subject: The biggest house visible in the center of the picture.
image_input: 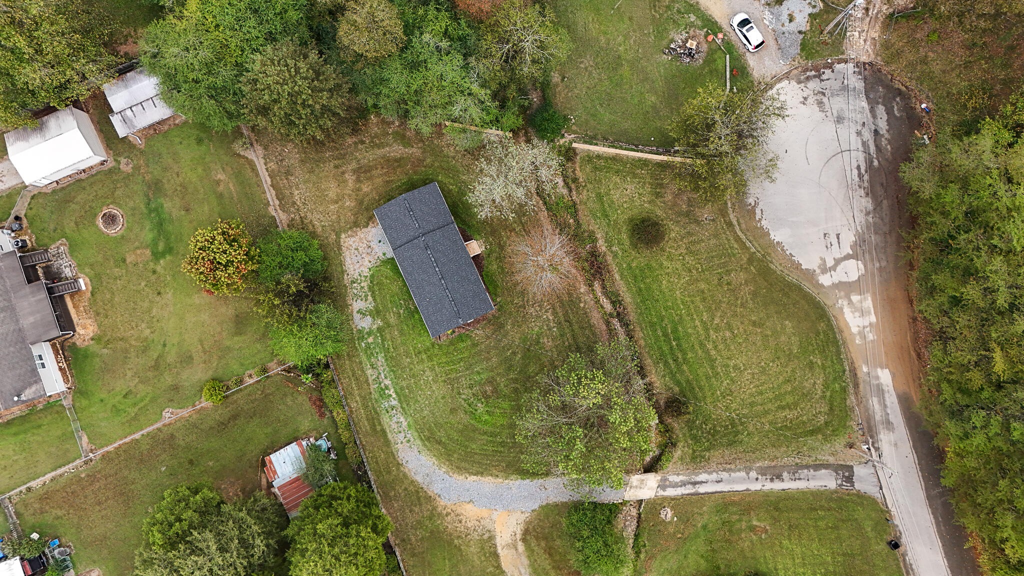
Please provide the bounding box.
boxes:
[373,182,499,342]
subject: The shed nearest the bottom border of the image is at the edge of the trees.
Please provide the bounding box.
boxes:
[260,440,317,520]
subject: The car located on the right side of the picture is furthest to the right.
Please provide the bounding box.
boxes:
[731,9,769,52]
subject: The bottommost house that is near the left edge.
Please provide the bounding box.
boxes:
[0,219,86,412]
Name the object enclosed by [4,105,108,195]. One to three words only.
building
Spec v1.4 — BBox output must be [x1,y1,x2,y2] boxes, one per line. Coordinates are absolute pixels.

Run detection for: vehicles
[20,554,53,576]
[731,9,769,52]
